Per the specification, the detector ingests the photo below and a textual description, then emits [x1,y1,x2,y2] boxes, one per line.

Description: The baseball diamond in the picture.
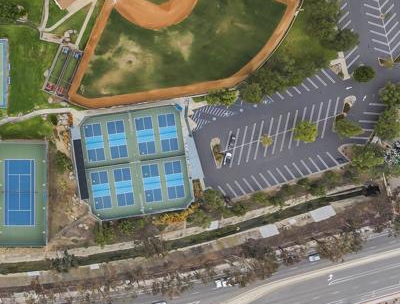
[69,0,300,107]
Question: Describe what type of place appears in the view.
sports ground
